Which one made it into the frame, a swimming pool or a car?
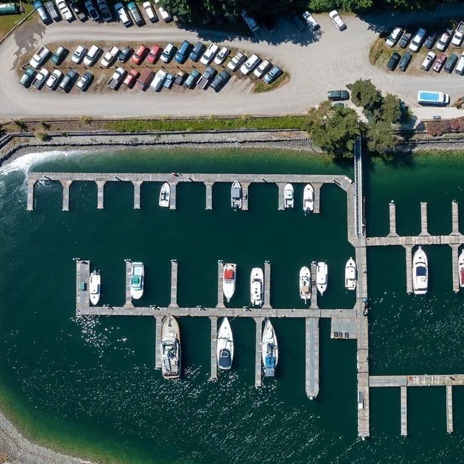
car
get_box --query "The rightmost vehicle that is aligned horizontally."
[417,93,449,105]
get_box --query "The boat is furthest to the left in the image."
[89,272,102,305]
